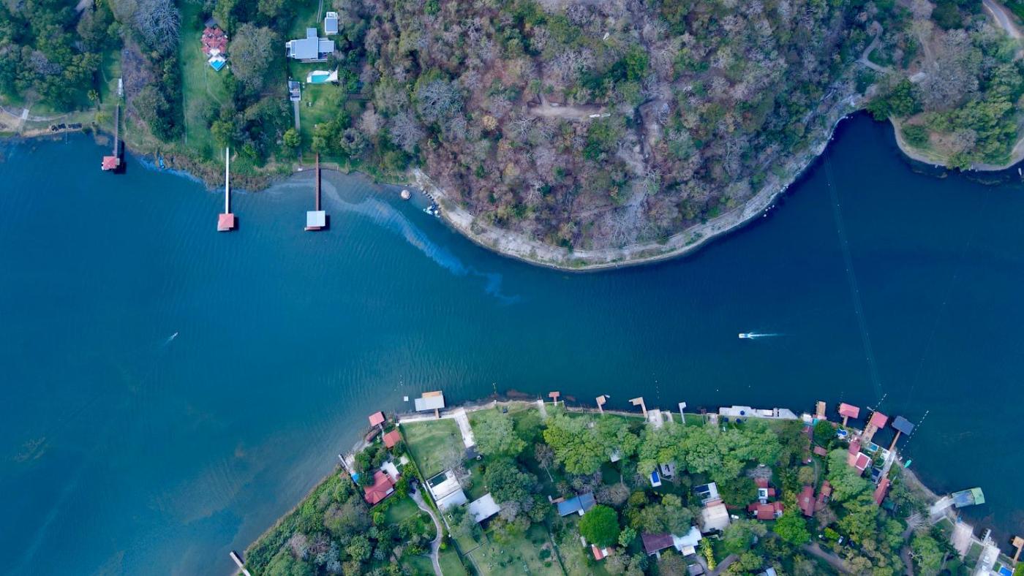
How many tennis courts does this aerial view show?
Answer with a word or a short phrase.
0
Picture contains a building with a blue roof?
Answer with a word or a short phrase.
Yes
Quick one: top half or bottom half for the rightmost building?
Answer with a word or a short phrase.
bottom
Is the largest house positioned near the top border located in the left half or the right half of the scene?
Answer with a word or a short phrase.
left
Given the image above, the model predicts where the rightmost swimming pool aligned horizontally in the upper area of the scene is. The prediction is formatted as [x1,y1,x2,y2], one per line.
[307,66,338,83]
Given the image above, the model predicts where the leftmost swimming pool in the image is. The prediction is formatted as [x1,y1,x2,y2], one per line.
[209,56,226,71]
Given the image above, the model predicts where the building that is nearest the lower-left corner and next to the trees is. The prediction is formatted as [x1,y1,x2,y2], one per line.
[364,470,397,504]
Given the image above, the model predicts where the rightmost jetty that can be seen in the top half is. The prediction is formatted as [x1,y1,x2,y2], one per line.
[305,153,326,231]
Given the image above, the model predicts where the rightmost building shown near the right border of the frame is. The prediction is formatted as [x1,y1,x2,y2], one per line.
[950,486,985,507]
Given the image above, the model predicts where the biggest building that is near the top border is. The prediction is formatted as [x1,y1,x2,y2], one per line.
[286,27,337,63]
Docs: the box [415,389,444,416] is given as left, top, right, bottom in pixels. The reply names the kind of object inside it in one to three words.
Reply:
pier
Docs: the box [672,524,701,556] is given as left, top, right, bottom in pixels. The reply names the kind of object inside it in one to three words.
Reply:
house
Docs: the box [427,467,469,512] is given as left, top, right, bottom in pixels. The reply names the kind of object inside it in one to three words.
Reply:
building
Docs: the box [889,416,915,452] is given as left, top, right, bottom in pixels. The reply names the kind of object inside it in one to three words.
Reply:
pier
